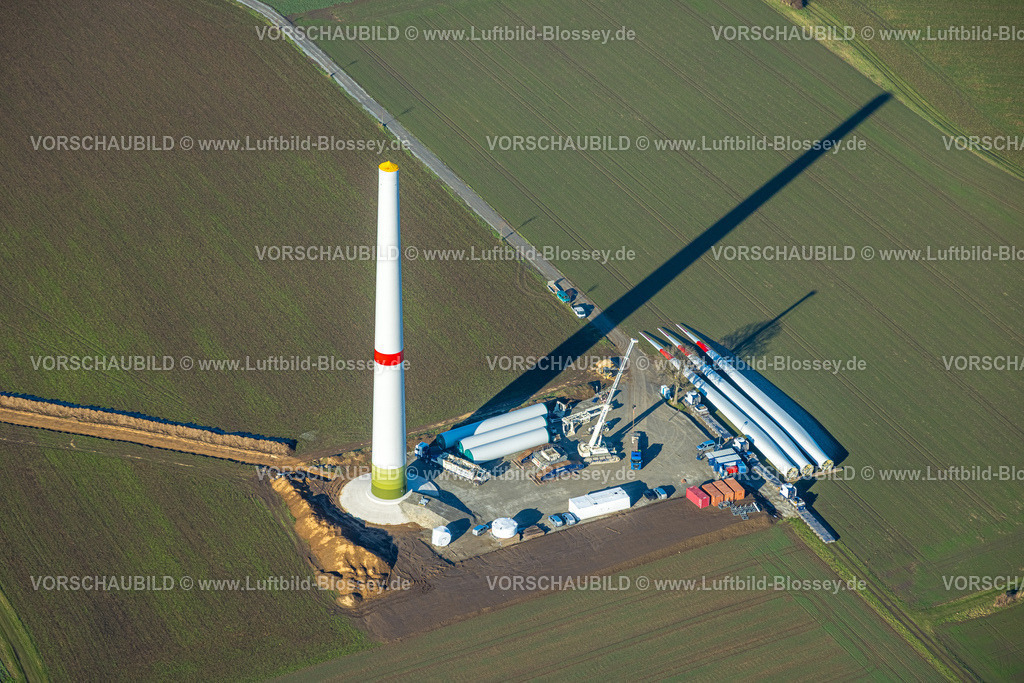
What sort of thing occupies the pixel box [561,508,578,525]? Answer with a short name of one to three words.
car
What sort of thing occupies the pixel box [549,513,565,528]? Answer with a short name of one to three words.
car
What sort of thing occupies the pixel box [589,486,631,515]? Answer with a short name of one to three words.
building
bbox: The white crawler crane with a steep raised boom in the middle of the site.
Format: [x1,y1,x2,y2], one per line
[580,339,640,465]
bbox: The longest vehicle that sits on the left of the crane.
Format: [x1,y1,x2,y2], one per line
[413,442,491,483]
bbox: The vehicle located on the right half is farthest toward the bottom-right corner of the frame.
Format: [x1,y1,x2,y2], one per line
[781,485,841,543]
